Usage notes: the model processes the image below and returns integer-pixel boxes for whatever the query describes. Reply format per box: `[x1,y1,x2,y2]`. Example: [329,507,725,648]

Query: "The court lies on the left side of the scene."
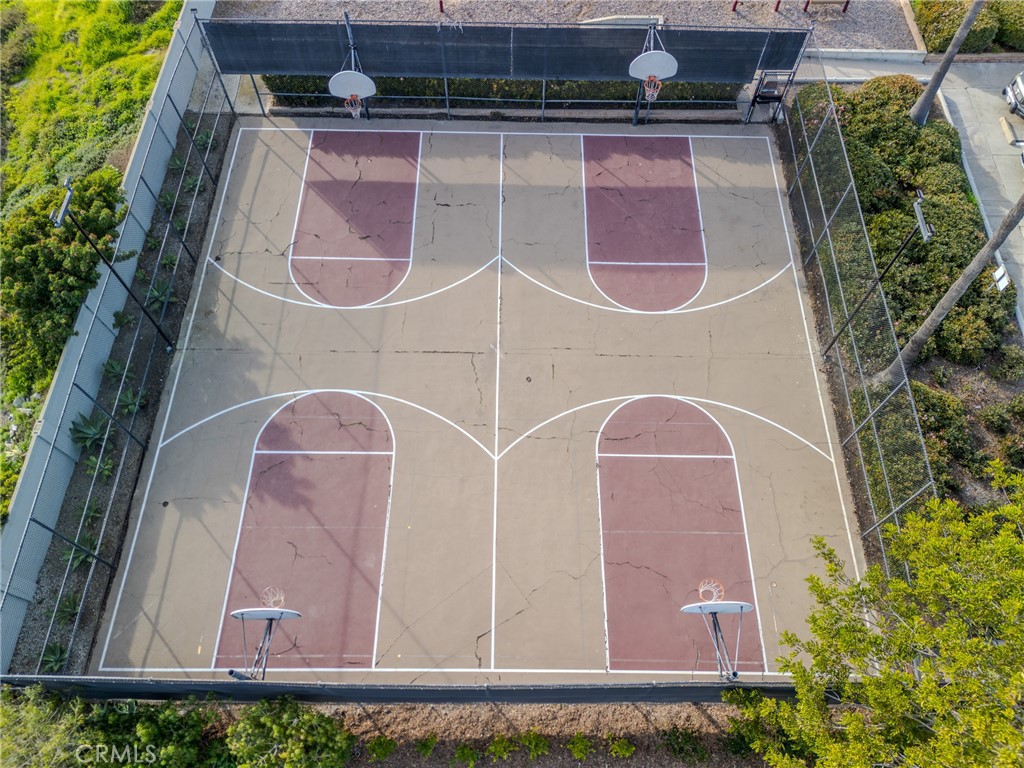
[79,116,503,689]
